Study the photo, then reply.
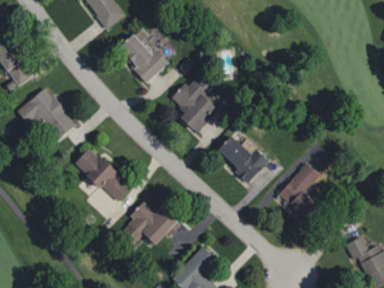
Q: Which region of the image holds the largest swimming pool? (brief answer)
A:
top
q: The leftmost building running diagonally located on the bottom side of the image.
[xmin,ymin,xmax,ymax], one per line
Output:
[76,150,129,201]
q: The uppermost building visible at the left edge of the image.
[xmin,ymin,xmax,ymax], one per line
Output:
[0,42,34,86]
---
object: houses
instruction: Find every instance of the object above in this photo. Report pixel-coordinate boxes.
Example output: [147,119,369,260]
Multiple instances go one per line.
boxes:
[218,138,270,183]
[124,202,181,245]
[76,150,129,201]
[172,78,219,134]
[0,42,34,86]
[174,247,218,288]
[16,87,76,140]
[84,0,126,29]
[348,236,384,288]
[124,27,171,83]
[278,162,320,208]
